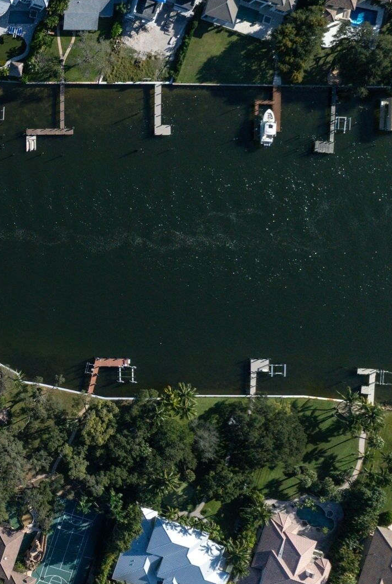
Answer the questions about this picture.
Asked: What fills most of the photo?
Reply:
water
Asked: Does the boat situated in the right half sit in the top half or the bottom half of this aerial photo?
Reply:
top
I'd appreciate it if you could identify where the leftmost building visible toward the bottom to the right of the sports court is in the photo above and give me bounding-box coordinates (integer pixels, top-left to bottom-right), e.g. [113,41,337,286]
[111,507,229,584]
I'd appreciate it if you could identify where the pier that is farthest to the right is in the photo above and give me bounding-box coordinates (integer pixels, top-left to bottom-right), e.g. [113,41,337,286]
[354,368,379,400]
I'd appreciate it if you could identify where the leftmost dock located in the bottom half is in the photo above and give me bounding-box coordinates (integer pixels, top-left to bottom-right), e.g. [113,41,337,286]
[89,358,131,395]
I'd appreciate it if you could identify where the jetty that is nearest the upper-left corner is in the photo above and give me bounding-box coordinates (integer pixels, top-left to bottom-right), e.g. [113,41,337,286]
[25,84,73,136]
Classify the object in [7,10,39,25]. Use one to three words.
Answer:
swimming pool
